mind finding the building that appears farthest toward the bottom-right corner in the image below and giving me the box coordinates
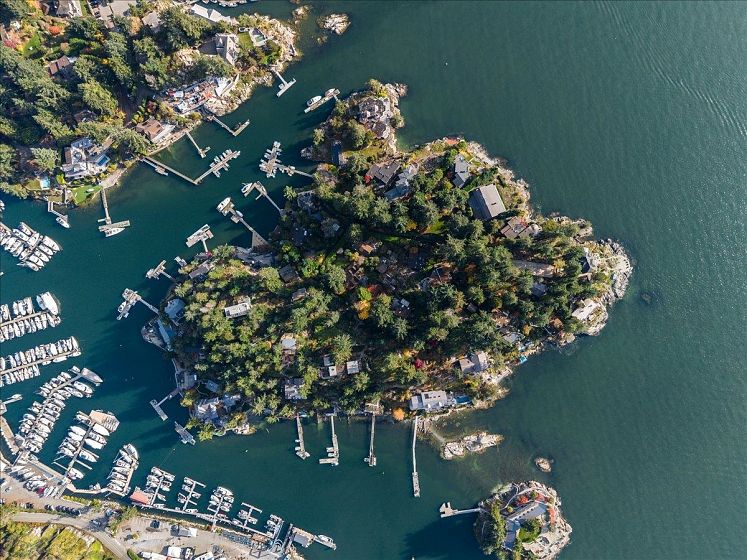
[498,497,554,551]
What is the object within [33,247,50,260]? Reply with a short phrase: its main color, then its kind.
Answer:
white boat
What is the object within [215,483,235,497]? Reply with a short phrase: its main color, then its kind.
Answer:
white boat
